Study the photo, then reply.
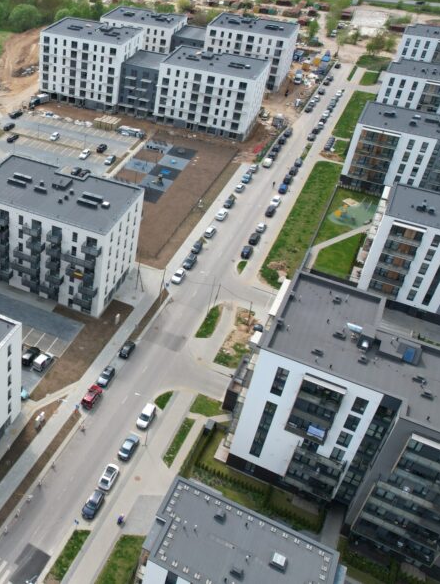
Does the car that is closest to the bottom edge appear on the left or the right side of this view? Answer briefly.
left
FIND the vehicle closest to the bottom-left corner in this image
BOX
[87,493,111,523]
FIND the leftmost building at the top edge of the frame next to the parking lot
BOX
[39,16,143,109]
